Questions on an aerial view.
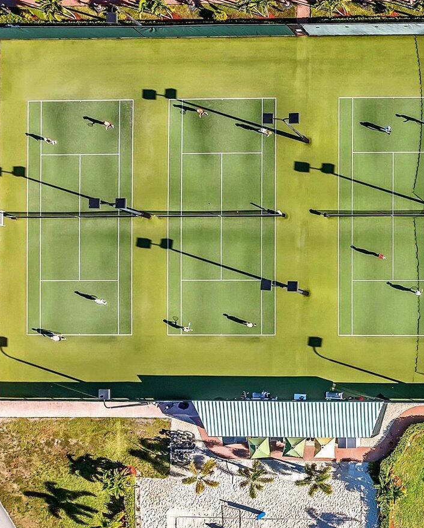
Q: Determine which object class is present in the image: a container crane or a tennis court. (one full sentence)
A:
Looking from above, you can make out a tennis court.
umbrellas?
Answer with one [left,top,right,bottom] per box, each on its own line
[286,437,307,458]
[250,437,271,458]
[315,437,336,457]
